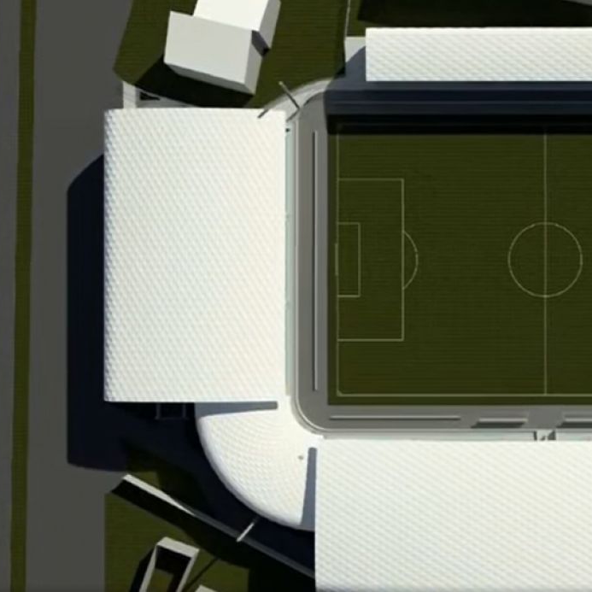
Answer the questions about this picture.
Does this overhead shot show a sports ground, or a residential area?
sports ground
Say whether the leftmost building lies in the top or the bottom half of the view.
bottom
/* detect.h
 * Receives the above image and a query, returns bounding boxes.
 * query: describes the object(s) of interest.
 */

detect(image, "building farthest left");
[140,536,200,592]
